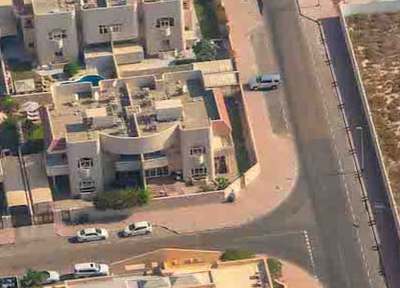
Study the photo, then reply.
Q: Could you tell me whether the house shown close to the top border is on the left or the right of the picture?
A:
left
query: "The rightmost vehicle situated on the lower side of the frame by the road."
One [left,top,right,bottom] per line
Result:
[119,218,153,236]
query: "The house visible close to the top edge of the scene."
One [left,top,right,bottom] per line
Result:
[28,0,204,84]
